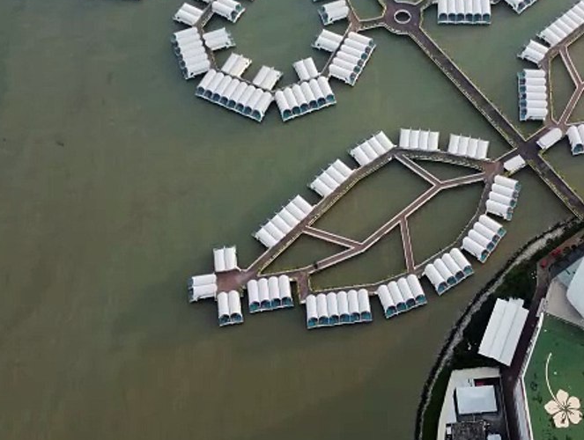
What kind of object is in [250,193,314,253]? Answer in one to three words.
house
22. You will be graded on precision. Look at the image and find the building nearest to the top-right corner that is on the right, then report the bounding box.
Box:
[536,0,584,49]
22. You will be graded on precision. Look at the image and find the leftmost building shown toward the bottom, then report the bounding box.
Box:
[187,275,218,301]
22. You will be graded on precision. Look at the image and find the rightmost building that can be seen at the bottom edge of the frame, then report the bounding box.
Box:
[515,312,584,440]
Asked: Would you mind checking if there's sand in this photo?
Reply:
No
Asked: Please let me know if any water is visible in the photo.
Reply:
Yes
